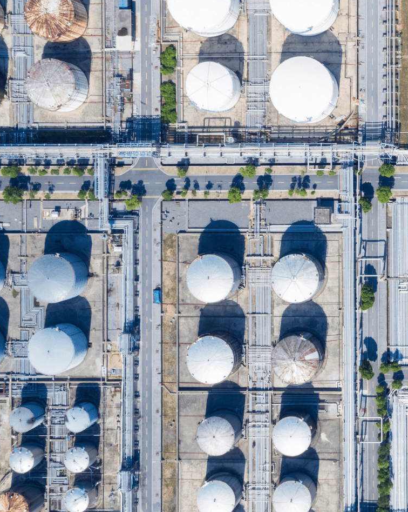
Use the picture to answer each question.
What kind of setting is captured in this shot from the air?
industrial area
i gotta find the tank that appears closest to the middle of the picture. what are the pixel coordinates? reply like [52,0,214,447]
[186,251,244,303]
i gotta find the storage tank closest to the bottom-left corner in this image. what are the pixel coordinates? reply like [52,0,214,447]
[0,480,45,512]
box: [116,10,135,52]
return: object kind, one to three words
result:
building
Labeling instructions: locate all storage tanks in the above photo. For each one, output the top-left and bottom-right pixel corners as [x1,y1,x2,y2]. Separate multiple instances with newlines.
[273,470,318,512]
[26,320,90,374]
[167,0,242,39]
[270,0,342,39]
[196,409,244,456]
[272,409,318,456]
[196,470,245,512]
[271,251,326,302]
[272,330,326,383]
[8,440,45,473]
[23,0,89,45]
[24,59,90,115]
[64,402,100,433]
[186,251,244,303]
[269,57,342,126]
[7,401,46,433]
[184,61,242,114]
[186,330,244,384]
[26,250,91,303]
[63,480,99,512]
[0,480,45,512]
[64,440,99,473]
